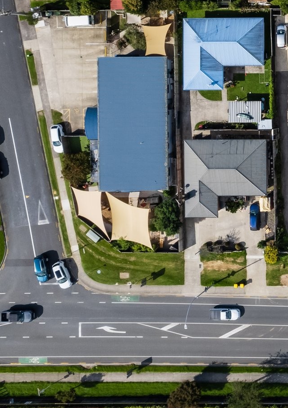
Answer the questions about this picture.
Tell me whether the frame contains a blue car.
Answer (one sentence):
Yes, you can see a blue car in this photo.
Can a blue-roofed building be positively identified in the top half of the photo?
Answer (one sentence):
Yes, I can see a blue-roofed building in the top half of the photo.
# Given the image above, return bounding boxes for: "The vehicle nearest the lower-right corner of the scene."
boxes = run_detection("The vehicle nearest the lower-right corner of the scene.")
[210,307,242,321]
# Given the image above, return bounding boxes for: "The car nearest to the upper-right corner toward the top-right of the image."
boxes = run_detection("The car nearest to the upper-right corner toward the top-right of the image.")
[274,24,288,48]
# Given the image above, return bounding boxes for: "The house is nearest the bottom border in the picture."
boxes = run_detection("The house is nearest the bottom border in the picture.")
[184,139,269,218]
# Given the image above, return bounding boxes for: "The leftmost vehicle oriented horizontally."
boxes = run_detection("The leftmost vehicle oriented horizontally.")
[1,309,35,324]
